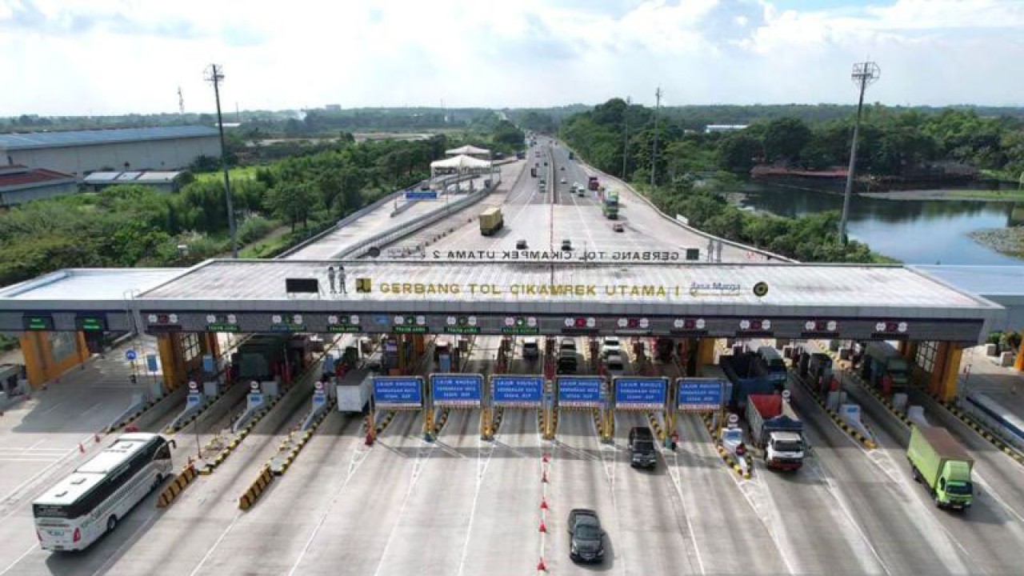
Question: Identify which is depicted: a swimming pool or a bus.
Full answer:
Of the two, only a bus appears.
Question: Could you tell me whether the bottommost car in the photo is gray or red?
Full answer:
The bottommost car is gray.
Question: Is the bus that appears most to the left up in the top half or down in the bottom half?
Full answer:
The bottom half of the photo is where the bus that appears most to the left is.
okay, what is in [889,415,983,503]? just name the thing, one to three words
truck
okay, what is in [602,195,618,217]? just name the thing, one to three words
vehicle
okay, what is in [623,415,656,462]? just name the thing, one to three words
car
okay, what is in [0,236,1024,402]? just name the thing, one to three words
toll station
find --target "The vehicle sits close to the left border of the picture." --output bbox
[37,433,173,544]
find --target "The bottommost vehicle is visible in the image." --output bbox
[567,498,606,553]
